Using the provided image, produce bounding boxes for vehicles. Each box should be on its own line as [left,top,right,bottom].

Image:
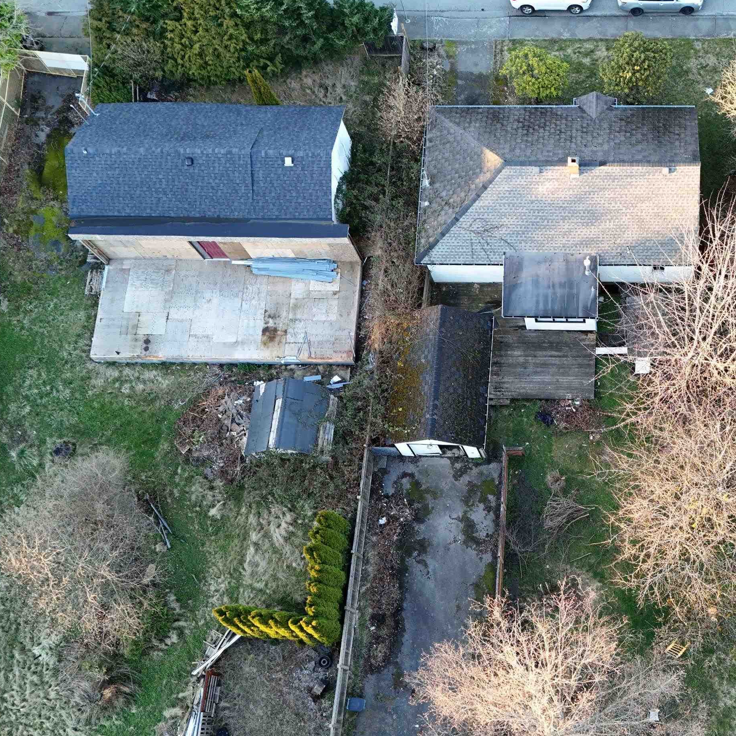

[509,0,592,16]
[615,0,704,16]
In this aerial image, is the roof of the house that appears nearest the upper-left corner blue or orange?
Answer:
blue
